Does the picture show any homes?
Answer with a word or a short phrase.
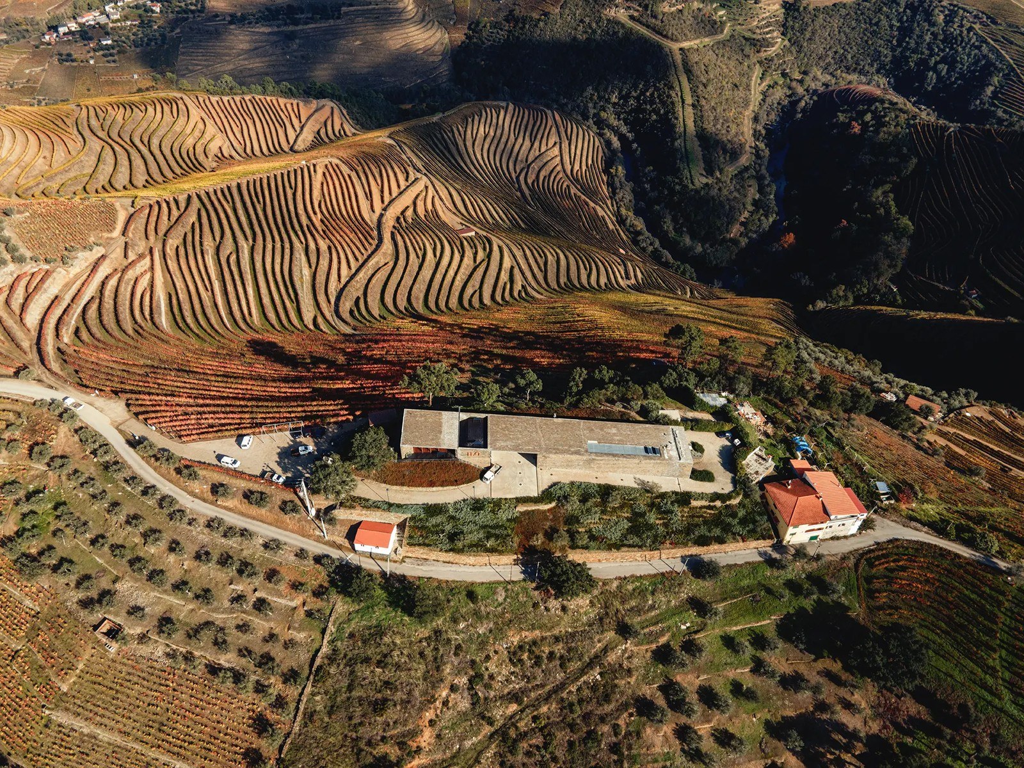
Yes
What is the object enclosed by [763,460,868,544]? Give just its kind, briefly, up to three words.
house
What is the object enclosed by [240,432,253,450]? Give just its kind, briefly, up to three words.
vehicle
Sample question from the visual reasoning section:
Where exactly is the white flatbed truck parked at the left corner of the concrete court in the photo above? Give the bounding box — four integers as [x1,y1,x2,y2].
[482,463,504,483]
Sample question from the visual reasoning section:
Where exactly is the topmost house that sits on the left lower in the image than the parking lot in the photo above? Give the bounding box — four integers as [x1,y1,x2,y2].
[353,517,394,555]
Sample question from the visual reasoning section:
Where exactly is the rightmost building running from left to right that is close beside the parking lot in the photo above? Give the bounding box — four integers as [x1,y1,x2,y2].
[397,408,693,479]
